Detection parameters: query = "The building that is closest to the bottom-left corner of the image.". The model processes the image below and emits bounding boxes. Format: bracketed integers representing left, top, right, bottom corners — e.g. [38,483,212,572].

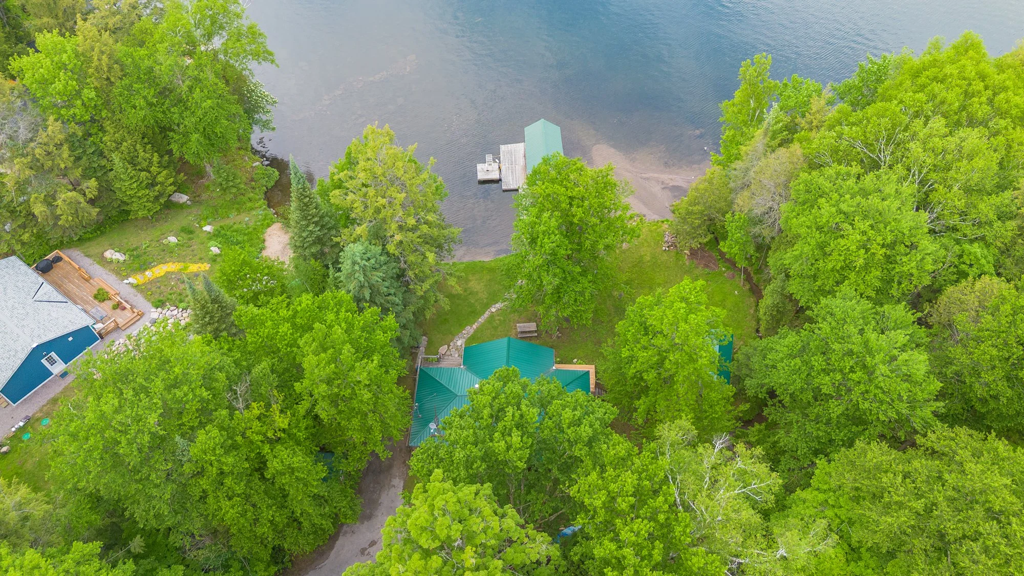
[0,255,100,405]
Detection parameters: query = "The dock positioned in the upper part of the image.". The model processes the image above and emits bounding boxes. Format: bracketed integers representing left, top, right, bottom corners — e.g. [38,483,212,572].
[498,144,525,195]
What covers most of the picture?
trees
